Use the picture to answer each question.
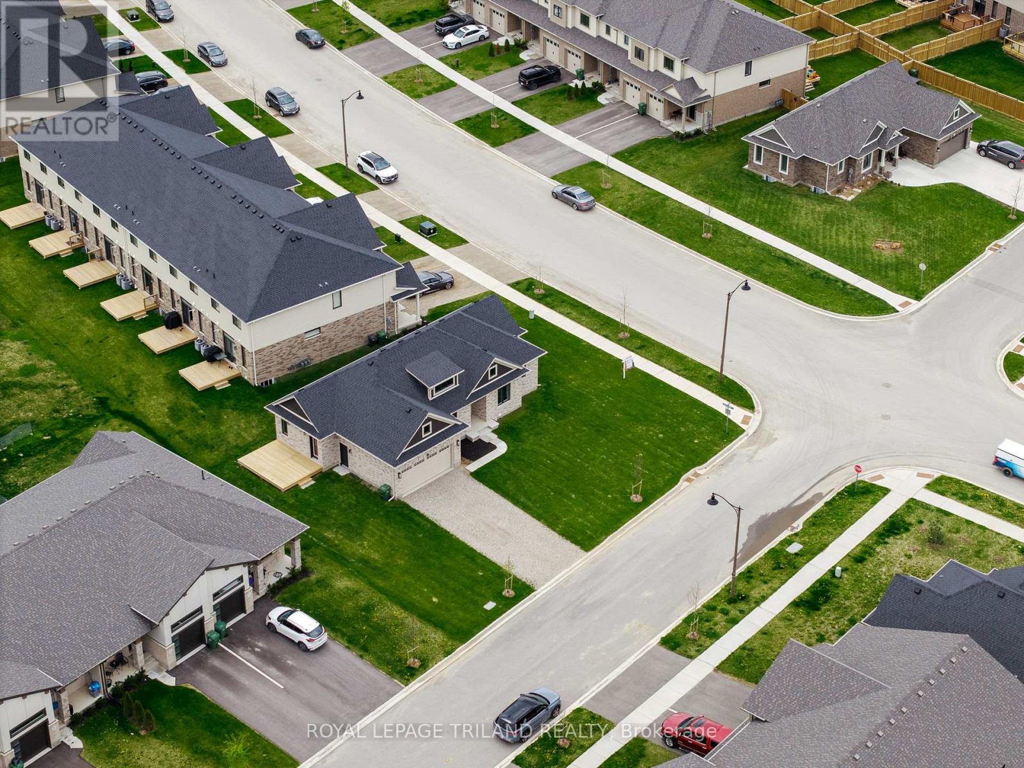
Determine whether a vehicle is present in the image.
Yes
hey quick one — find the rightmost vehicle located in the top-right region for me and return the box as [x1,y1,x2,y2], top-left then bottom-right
[977,140,1024,170]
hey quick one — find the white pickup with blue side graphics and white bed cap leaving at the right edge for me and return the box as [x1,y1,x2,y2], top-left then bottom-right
[993,439,1024,481]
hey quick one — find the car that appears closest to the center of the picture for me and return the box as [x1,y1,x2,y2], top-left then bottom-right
[415,270,459,297]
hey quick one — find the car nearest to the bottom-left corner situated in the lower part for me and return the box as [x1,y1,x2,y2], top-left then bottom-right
[263,606,332,654]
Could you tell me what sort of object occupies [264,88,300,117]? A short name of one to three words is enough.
car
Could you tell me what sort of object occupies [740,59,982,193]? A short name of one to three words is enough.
house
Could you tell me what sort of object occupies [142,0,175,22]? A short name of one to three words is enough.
vehicle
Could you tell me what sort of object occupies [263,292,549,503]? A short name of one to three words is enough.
house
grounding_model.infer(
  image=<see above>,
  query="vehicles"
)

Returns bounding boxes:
[549,183,598,211]
[431,10,473,34]
[493,689,562,746]
[355,153,397,184]
[263,606,332,654]
[194,41,228,66]
[148,76,195,98]
[658,712,730,759]
[517,64,563,90]
[136,70,169,92]
[294,28,328,49]
[415,270,459,297]
[977,140,1024,170]
[142,0,175,22]
[264,88,300,117]
[297,184,338,208]
[993,439,1024,481]
[111,38,139,56]
[444,26,488,49]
